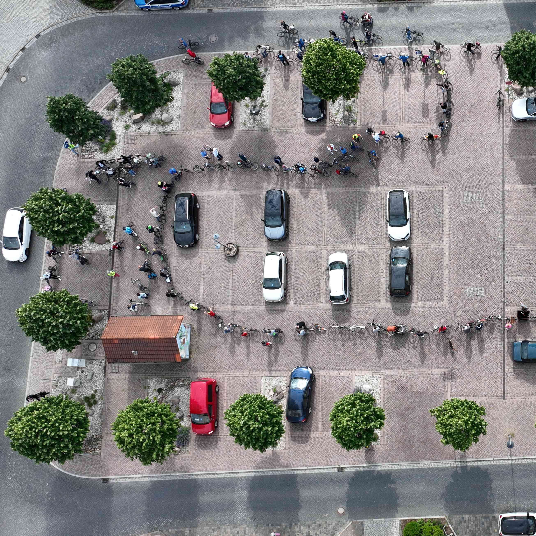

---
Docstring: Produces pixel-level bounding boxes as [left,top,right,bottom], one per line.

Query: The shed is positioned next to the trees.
[100,314,192,364]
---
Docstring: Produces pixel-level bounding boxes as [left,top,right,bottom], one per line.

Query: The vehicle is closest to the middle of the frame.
[259,253,288,302]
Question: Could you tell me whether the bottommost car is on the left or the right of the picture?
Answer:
right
